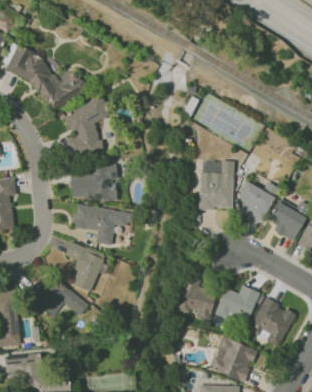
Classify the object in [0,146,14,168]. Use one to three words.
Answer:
swimming pool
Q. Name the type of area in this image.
residential area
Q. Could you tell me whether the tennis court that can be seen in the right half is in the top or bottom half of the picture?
top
